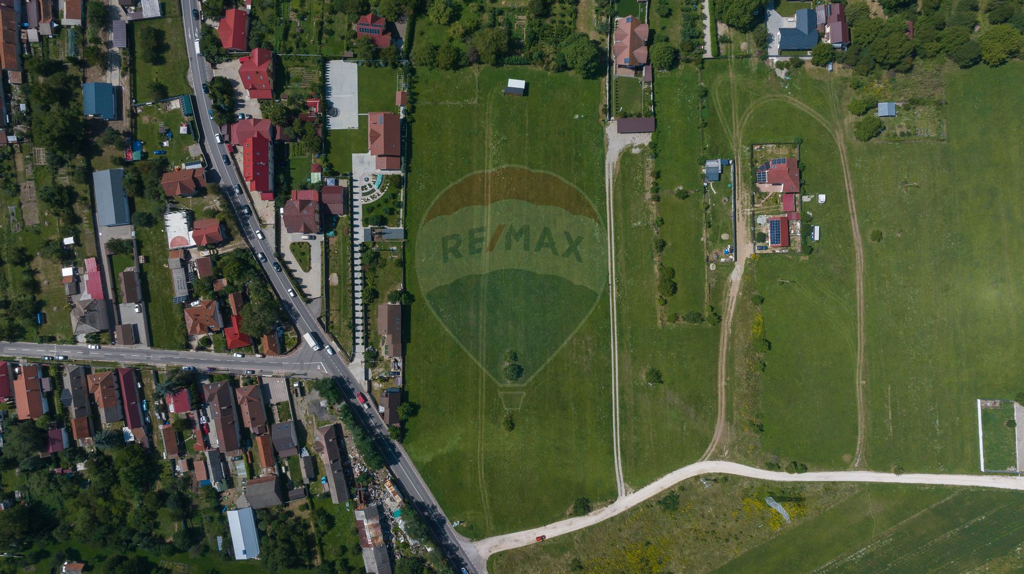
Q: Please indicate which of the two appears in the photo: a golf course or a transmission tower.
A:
transmission tower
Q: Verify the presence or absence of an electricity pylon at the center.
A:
No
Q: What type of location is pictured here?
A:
residential area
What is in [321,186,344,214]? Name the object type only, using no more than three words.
shed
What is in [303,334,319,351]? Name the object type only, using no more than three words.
vehicle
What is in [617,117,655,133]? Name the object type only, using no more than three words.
building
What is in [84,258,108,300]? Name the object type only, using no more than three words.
house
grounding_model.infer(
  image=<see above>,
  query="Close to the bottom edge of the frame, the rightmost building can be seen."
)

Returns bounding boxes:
[355,504,392,574]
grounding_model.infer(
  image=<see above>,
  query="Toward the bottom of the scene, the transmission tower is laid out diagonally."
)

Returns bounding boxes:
[764,496,794,522]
